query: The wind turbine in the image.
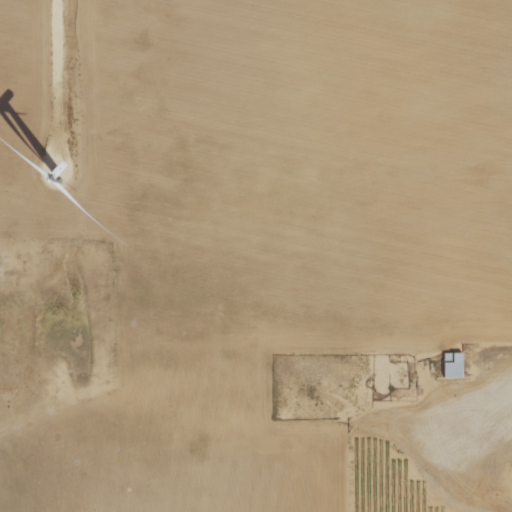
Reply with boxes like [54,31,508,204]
[0,134,123,245]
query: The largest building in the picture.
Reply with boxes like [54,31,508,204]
[445,352,465,378]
